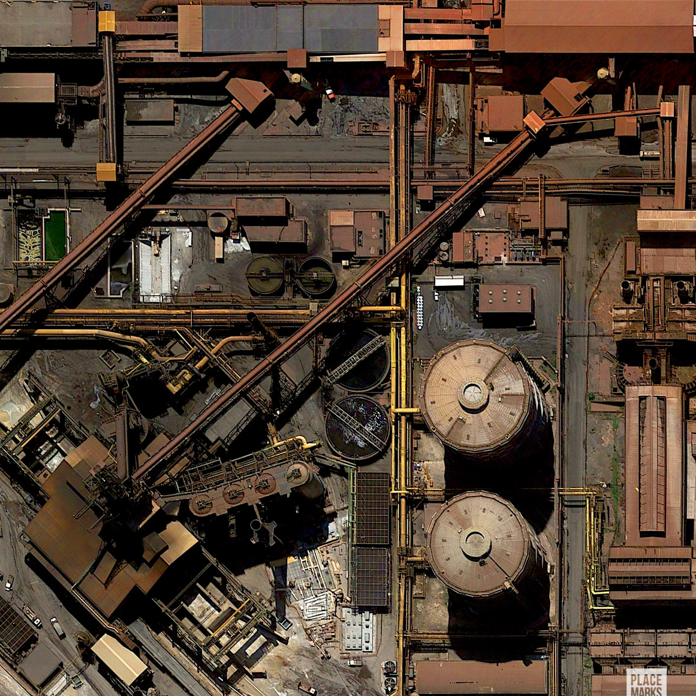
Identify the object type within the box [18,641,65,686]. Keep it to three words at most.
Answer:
building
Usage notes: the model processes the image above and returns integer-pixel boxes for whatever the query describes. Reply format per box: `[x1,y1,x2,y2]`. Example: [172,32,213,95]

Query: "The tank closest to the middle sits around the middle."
[325,327,391,394]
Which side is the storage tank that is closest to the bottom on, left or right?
right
